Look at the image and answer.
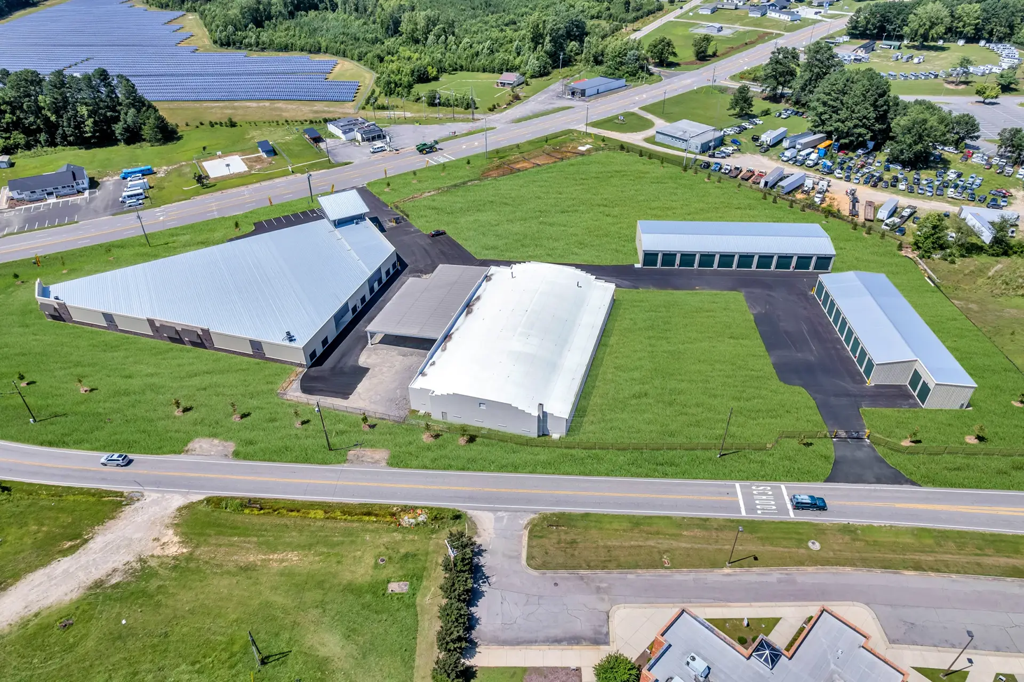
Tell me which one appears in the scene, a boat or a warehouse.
warehouse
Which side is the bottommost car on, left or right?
right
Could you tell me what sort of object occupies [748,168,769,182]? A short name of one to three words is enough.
vehicle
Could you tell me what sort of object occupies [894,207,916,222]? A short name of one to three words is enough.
vehicle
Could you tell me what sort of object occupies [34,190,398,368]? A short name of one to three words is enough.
building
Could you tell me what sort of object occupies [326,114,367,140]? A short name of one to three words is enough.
building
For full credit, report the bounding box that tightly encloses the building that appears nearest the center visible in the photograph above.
[408,263,615,444]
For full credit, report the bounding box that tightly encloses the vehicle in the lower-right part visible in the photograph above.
[789,490,831,511]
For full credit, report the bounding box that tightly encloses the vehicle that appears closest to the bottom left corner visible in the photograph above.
[97,450,131,467]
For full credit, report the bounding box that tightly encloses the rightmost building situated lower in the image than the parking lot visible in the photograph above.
[812,272,979,413]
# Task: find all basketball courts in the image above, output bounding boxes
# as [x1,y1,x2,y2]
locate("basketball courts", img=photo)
[202,155,248,178]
